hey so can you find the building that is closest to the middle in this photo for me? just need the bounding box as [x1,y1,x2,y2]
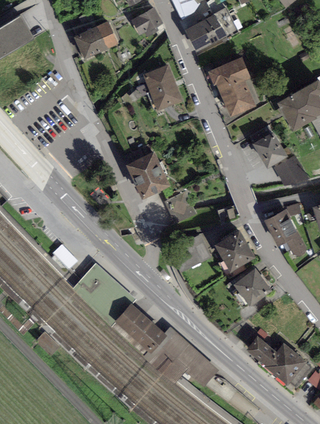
[165,192,197,223]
